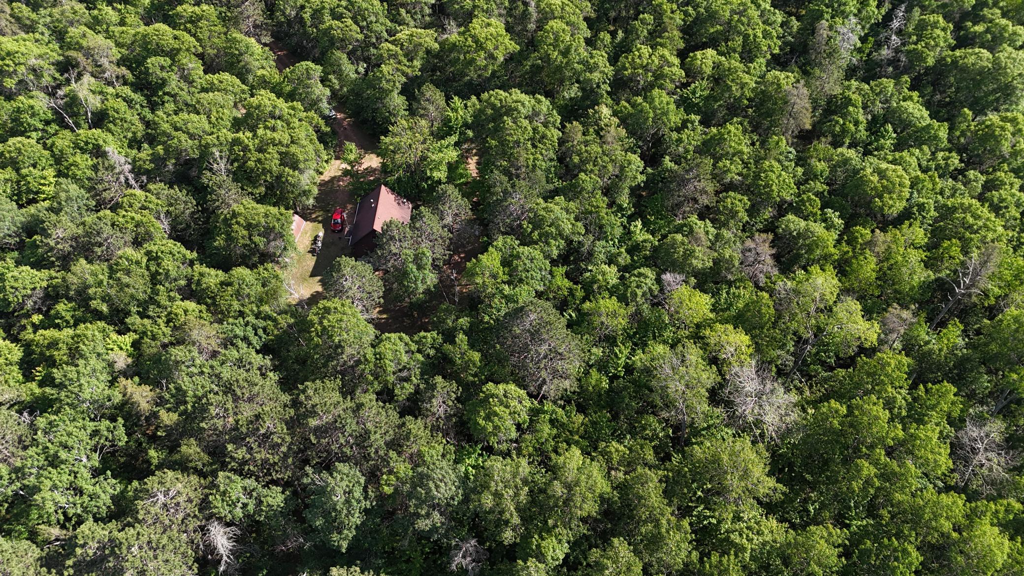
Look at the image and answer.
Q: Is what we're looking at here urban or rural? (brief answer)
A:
rural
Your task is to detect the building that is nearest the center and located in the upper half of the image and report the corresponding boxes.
[341,185,414,254]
